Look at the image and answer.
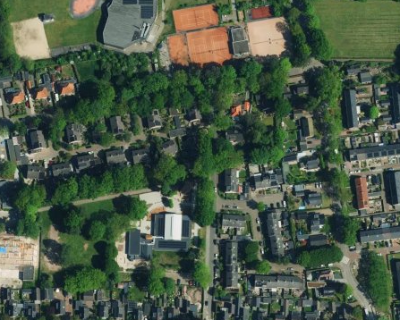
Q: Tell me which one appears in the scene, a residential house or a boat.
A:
residential house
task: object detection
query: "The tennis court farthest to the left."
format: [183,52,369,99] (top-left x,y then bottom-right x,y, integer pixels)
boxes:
[168,32,188,66]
